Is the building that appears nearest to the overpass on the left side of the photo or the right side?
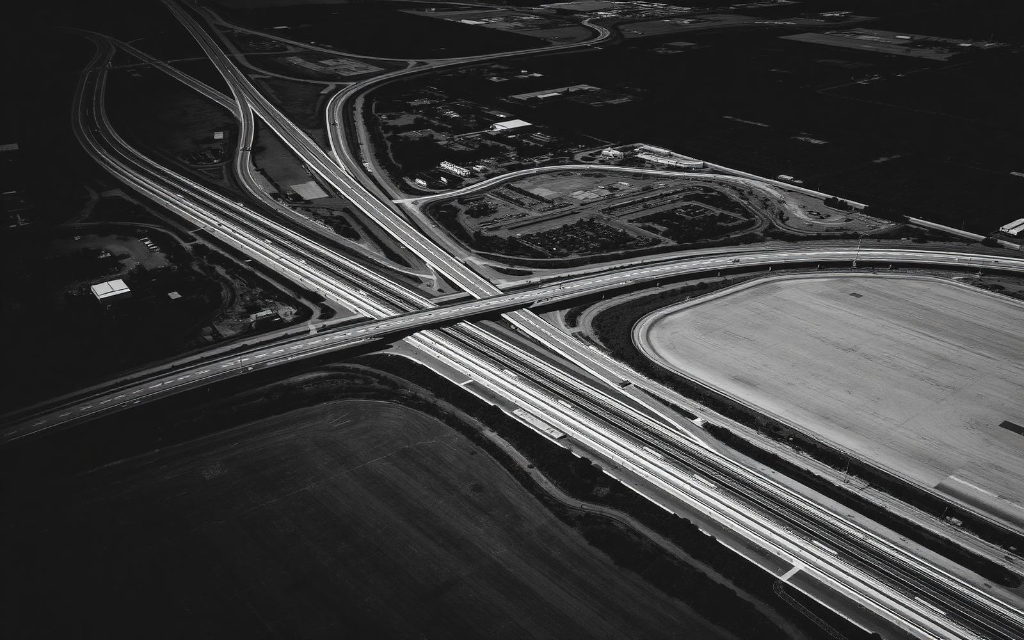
right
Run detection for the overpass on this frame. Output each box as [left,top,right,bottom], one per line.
[0,247,1024,460]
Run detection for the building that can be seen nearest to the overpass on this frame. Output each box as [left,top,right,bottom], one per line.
[903,216,1020,252]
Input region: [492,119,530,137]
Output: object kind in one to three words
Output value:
building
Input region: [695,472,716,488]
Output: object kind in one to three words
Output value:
vehicle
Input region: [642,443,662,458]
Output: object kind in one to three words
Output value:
vehicle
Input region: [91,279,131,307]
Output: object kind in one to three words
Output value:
barn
